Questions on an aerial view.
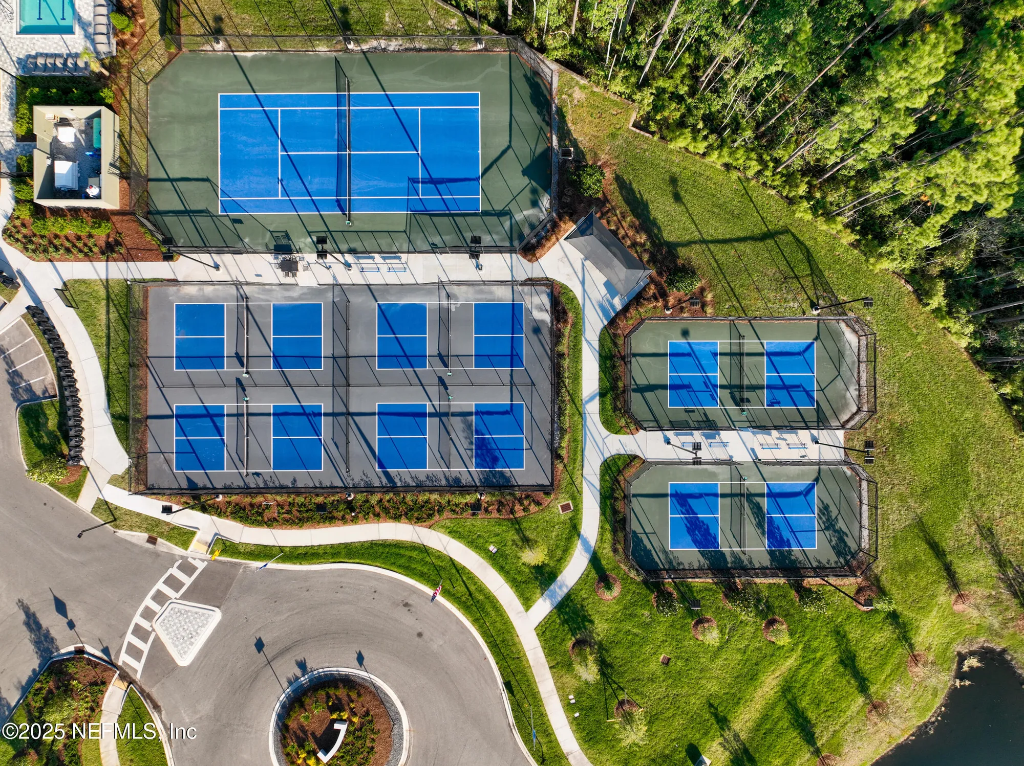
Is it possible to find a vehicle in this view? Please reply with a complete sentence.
No, the picture doesn't show any vehicle.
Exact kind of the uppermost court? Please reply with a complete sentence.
The uppermost court in the image is a tennis court.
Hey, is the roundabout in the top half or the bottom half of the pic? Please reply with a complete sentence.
It is in the bottom half that the roundabout appears.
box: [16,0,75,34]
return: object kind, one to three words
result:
swimming pool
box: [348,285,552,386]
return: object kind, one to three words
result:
sports court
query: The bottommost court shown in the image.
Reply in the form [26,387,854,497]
[631,464,861,570]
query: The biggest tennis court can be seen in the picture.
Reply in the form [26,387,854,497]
[148,51,550,253]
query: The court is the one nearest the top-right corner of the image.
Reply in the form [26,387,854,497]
[631,322,859,428]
